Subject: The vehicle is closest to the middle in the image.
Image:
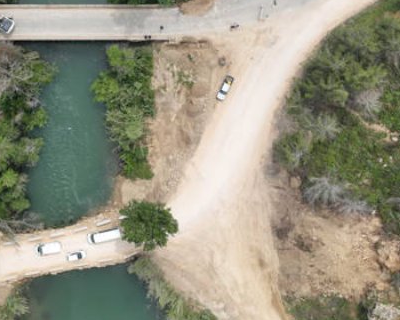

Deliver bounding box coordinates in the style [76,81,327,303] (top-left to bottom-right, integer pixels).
[216,75,234,101]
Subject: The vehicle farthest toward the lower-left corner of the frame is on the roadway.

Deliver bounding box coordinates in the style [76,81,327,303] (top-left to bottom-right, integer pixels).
[37,242,62,254]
